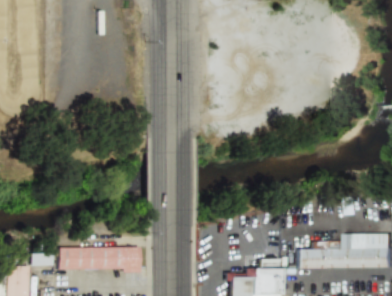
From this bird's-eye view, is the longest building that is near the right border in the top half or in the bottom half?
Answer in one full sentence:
Seen from above, the longest building that is near the right border lies in the bottom half of the view.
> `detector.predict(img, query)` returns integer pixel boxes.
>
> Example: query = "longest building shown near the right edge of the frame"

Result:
[298,234,392,270]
